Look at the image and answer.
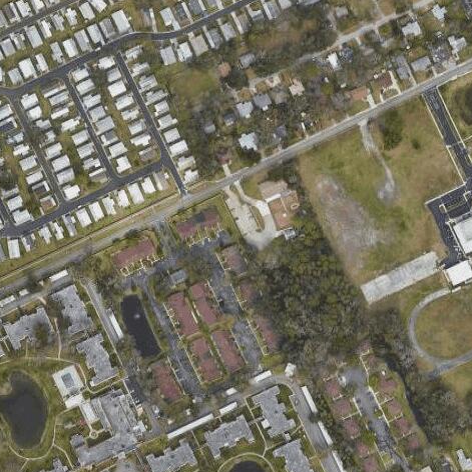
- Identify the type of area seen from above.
residential area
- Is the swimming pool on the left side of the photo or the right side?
left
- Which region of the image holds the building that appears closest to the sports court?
right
